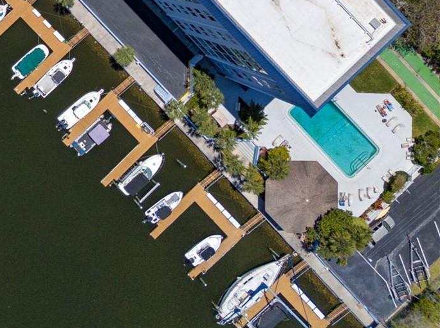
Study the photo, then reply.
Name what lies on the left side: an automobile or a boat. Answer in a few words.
boat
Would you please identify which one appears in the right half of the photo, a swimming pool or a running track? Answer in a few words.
swimming pool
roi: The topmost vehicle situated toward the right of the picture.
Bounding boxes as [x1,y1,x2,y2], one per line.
[368,213,399,246]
